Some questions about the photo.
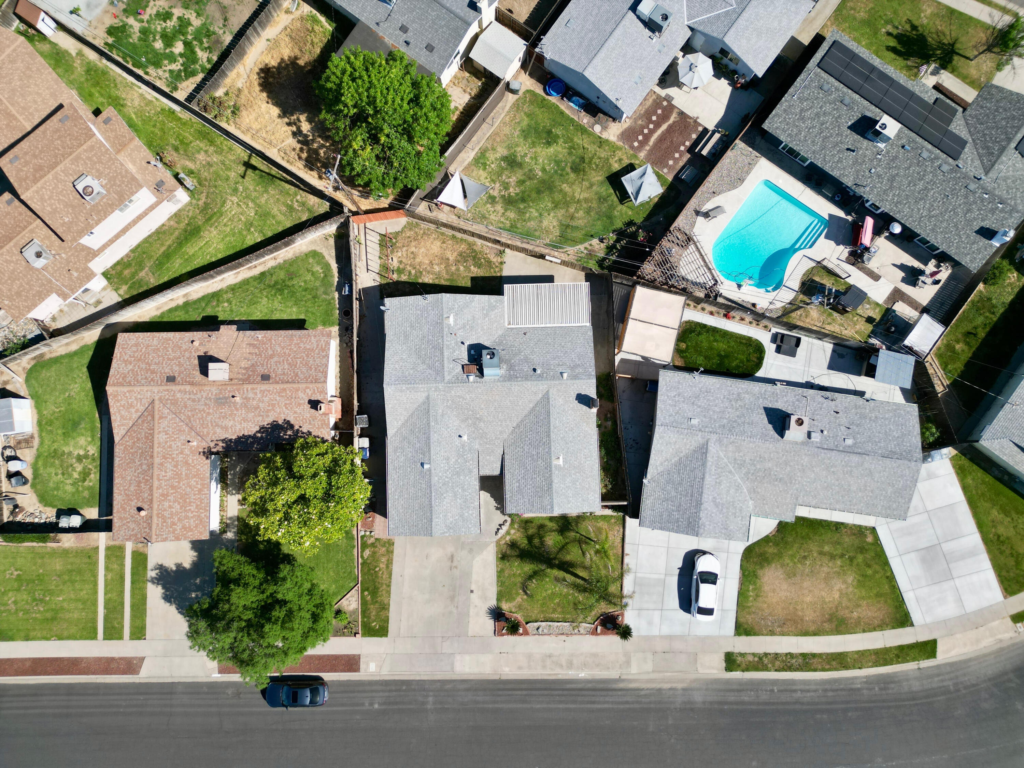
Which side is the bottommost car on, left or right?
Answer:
left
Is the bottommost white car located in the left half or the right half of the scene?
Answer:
right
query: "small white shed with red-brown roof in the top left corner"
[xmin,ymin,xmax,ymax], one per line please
[13,0,61,39]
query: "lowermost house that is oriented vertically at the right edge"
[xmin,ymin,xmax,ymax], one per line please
[962,338,1024,477]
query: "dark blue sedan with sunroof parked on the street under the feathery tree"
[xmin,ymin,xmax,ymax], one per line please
[267,678,331,713]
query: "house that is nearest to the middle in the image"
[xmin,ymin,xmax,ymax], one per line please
[383,293,603,536]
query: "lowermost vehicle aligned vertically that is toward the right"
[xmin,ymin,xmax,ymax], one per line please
[690,552,725,622]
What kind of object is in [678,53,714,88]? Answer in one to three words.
umbrella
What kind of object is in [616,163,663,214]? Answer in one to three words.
tent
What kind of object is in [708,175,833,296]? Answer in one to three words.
swimming pool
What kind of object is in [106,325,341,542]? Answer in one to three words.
house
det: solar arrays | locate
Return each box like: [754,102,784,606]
[818,41,967,159]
